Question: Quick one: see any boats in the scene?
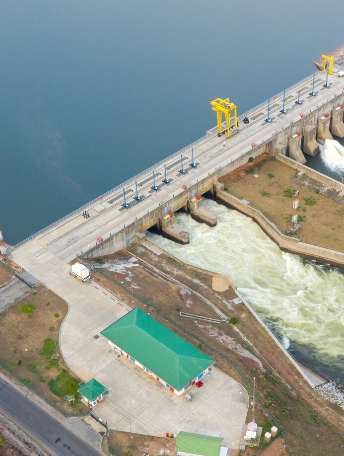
No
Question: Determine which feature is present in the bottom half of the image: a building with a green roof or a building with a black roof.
building with a green roof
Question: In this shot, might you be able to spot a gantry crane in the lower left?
No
